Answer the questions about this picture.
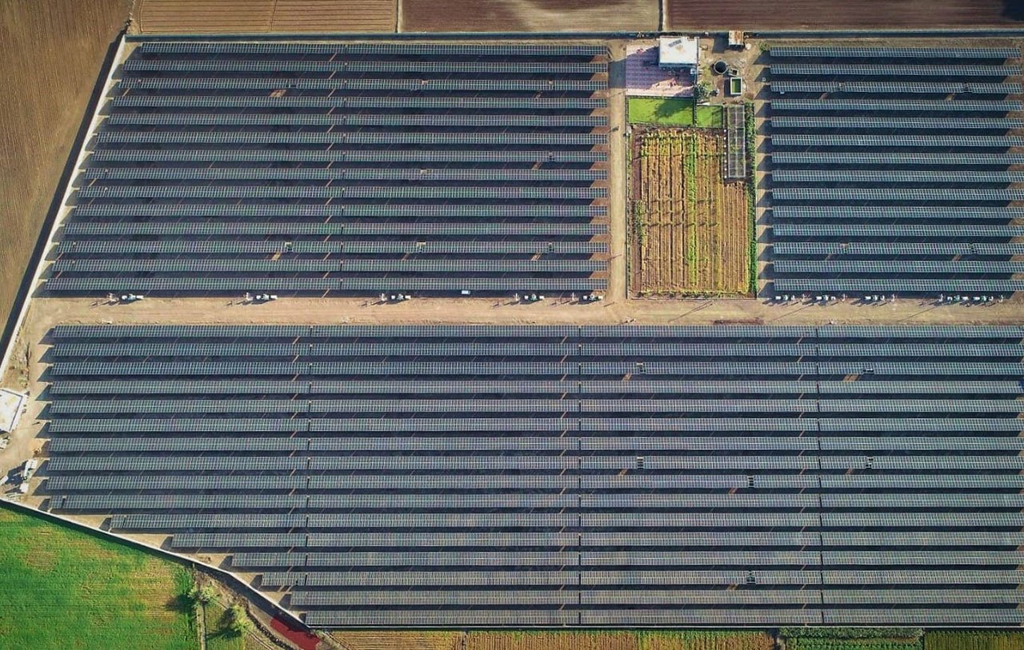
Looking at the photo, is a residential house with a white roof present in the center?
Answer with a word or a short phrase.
No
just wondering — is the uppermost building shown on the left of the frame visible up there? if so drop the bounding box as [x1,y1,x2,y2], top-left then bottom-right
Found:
[0,387,28,433]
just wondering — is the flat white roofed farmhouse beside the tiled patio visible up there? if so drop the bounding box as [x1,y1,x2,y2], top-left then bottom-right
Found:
[658,37,699,72]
